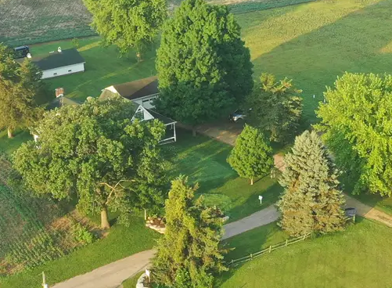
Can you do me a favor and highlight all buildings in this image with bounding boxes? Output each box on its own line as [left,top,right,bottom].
[9,45,86,80]
[99,72,177,142]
